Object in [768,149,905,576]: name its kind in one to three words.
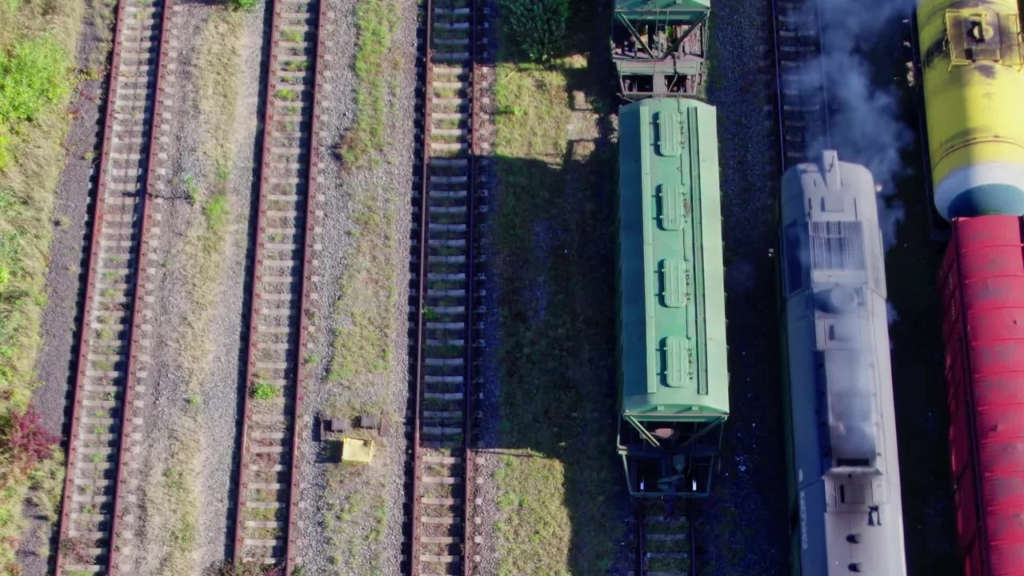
rail car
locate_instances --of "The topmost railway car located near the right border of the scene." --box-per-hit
[905,0,1024,238]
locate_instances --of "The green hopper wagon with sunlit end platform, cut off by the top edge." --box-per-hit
[607,0,712,102]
